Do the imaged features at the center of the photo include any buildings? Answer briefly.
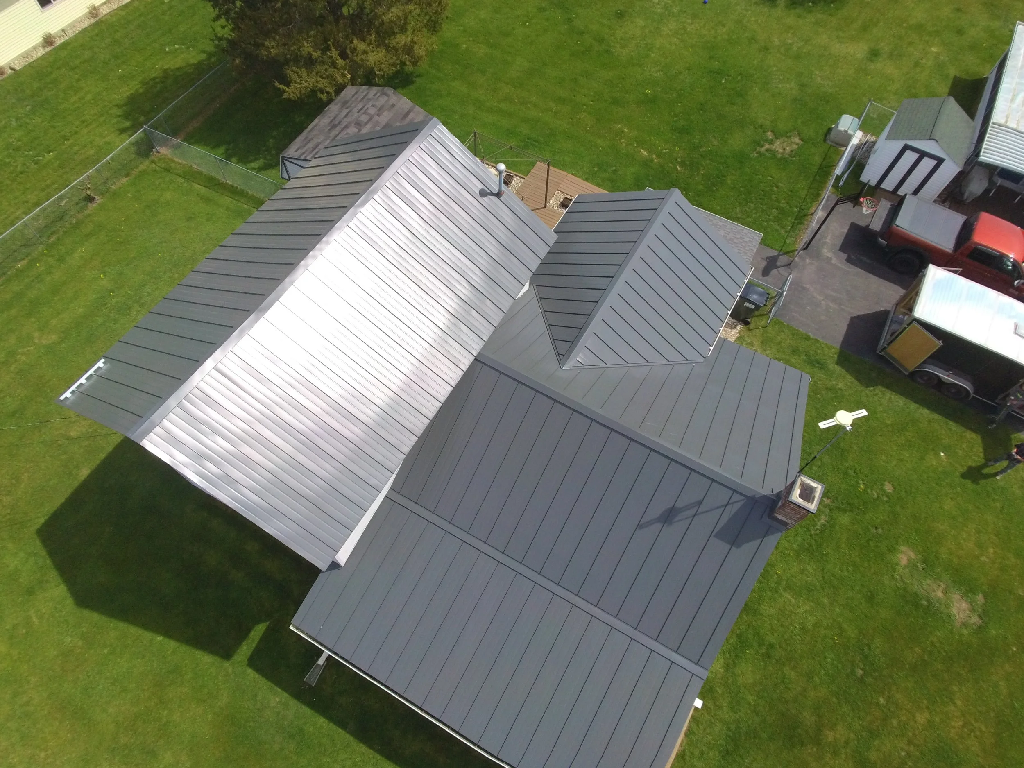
Yes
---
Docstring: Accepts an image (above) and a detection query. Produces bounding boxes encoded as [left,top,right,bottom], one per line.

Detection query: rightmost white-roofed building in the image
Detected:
[945,19,1024,207]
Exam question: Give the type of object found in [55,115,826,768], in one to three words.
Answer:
house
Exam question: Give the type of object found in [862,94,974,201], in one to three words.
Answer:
shed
